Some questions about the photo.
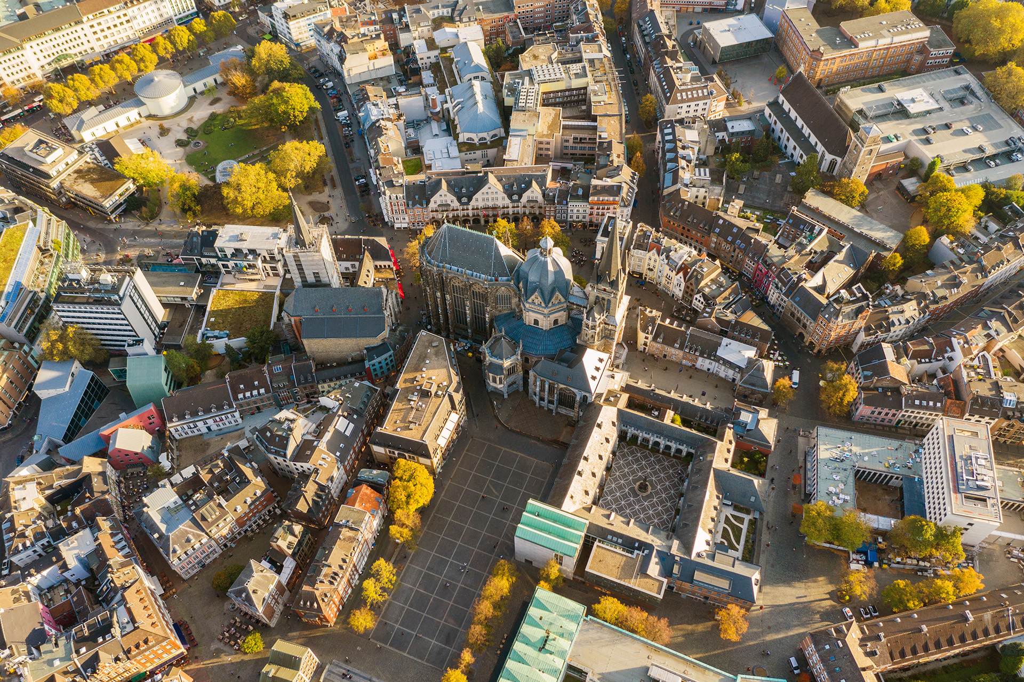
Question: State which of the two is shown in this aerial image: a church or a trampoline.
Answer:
church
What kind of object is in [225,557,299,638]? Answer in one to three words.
house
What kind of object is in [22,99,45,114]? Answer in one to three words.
vehicle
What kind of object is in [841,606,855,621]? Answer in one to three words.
car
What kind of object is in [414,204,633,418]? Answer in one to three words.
church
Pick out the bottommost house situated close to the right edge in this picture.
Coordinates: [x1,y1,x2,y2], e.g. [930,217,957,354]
[789,583,1024,682]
